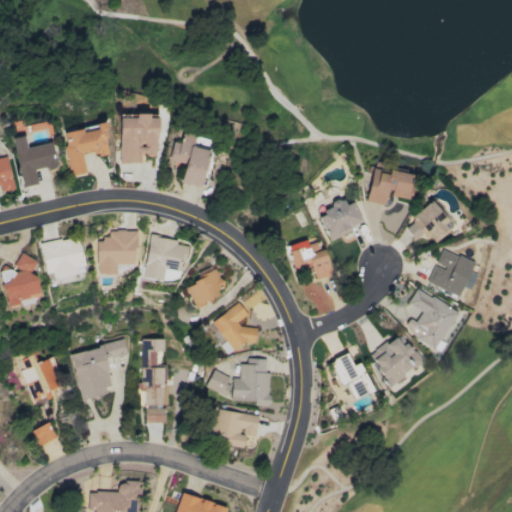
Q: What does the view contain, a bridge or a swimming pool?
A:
swimming pool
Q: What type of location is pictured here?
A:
residential area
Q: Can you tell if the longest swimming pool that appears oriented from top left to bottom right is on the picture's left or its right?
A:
right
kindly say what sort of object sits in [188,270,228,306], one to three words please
house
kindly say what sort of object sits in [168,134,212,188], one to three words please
house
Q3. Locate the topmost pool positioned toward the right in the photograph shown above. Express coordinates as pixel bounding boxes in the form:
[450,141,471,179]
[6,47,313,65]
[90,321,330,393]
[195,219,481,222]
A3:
[323,168,346,182]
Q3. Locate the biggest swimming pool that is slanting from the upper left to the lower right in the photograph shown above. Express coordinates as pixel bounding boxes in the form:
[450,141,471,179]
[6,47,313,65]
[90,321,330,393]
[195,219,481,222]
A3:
[435,189,460,214]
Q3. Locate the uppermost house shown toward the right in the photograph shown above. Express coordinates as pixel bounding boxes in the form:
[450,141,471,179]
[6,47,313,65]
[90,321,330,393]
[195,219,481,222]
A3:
[370,167,416,204]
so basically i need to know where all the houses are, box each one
[214,303,260,356]
[98,230,138,274]
[138,340,168,424]
[0,253,44,308]
[66,123,112,176]
[428,248,478,294]
[370,167,416,204]
[168,134,212,188]
[14,136,59,187]
[0,155,14,194]
[292,240,336,281]
[206,370,232,399]
[407,289,460,352]
[88,481,142,512]
[121,112,160,163]
[232,358,270,403]
[21,355,62,402]
[70,339,128,400]
[336,354,376,401]
[214,412,259,449]
[374,338,422,386]
[409,202,454,241]
[321,202,367,244]
[144,234,190,280]
[176,494,229,512]
[188,270,228,306]
[40,240,88,286]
